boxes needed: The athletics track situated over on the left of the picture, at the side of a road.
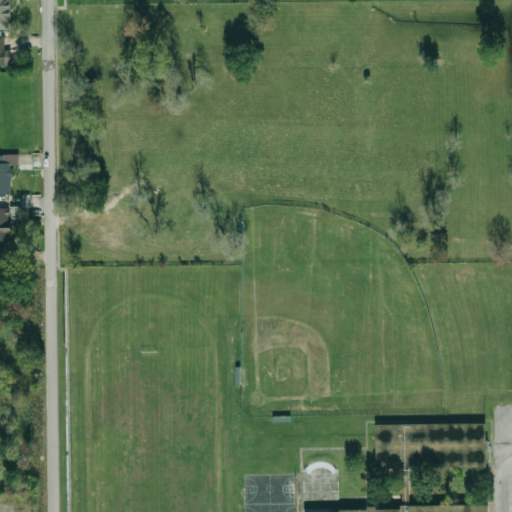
[80,292,224,512]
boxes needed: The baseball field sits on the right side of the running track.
[242,204,444,416]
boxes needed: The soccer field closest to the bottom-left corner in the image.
[89,300,215,512]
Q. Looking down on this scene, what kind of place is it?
sports ground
